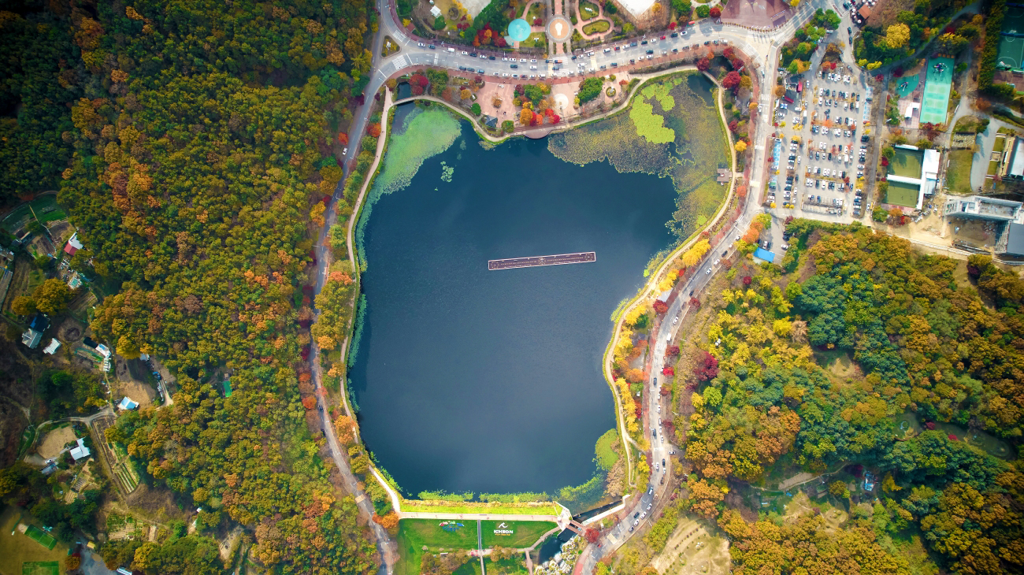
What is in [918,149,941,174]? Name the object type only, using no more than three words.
building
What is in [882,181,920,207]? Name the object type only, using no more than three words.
soccer field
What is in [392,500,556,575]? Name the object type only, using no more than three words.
dam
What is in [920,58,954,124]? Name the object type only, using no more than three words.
sports court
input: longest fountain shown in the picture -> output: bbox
[488,252,596,270]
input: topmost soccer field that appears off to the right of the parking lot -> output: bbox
[888,149,922,179]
